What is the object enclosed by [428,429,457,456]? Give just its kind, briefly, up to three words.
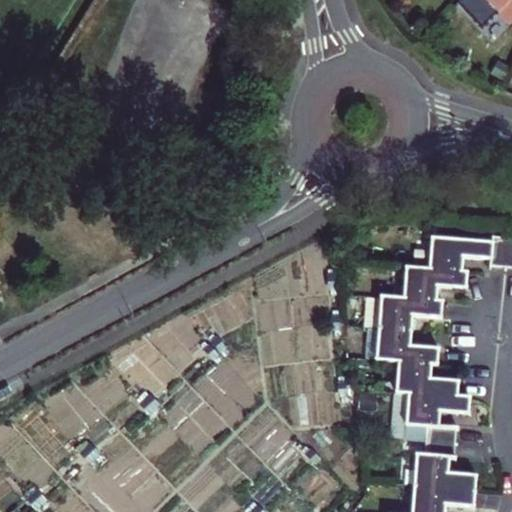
building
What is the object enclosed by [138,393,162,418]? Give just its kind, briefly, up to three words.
shed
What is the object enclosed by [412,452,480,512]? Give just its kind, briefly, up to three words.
building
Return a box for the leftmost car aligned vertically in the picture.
[470,276,484,300]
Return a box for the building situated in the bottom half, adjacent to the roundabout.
[376,236,496,428]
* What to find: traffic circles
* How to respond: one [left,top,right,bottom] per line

[291,50,428,190]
